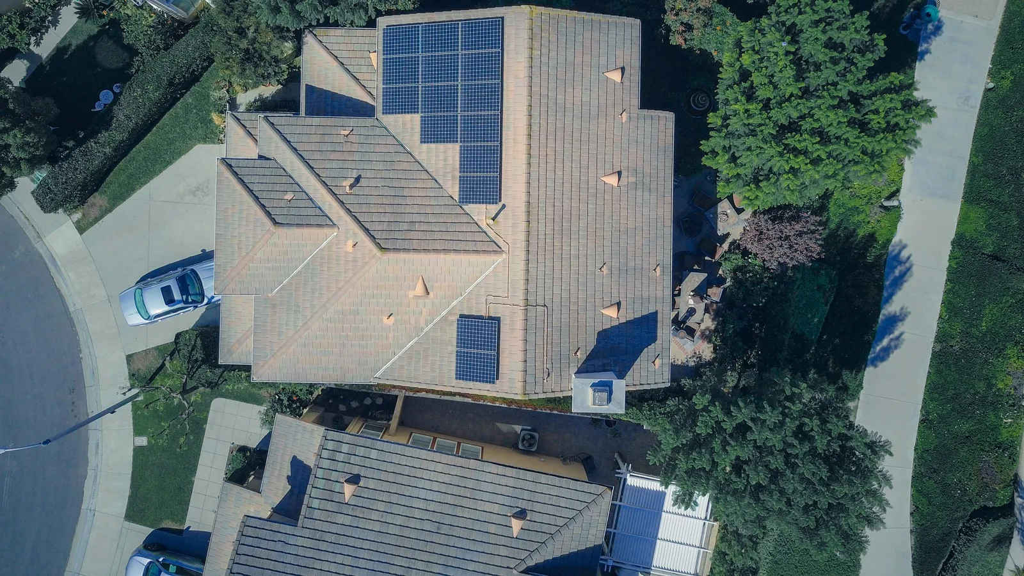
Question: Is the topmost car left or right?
left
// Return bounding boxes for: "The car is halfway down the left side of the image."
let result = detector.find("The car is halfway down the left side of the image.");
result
[120,271,220,327]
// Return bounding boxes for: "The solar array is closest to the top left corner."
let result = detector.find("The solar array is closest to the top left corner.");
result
[380,21,501,204]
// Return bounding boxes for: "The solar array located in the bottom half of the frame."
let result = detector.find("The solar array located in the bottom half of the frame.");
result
[454,319,496,383]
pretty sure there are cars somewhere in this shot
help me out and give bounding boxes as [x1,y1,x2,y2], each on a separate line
[120,271,220,327]
[121,544,203,576]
